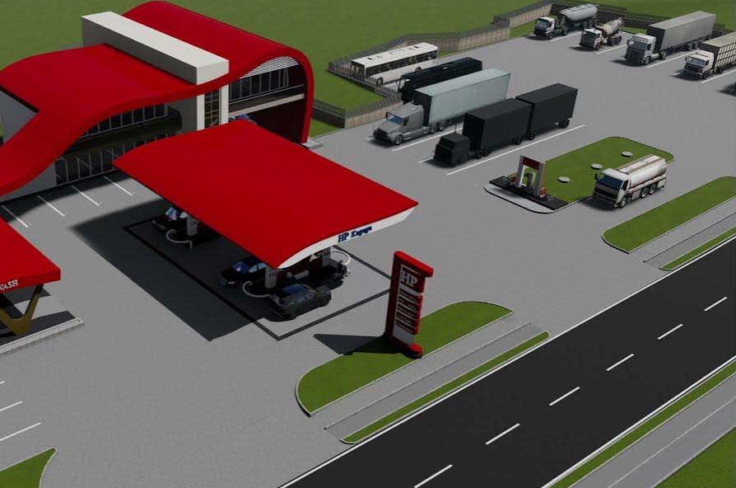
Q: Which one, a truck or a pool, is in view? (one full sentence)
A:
I can see a truck in this picture.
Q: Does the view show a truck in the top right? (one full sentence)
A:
Yes, in the top right there is a truck.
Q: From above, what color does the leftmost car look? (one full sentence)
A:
In this view, the leftmost car is black.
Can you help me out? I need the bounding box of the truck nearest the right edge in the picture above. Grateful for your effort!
[682,27,736,77]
